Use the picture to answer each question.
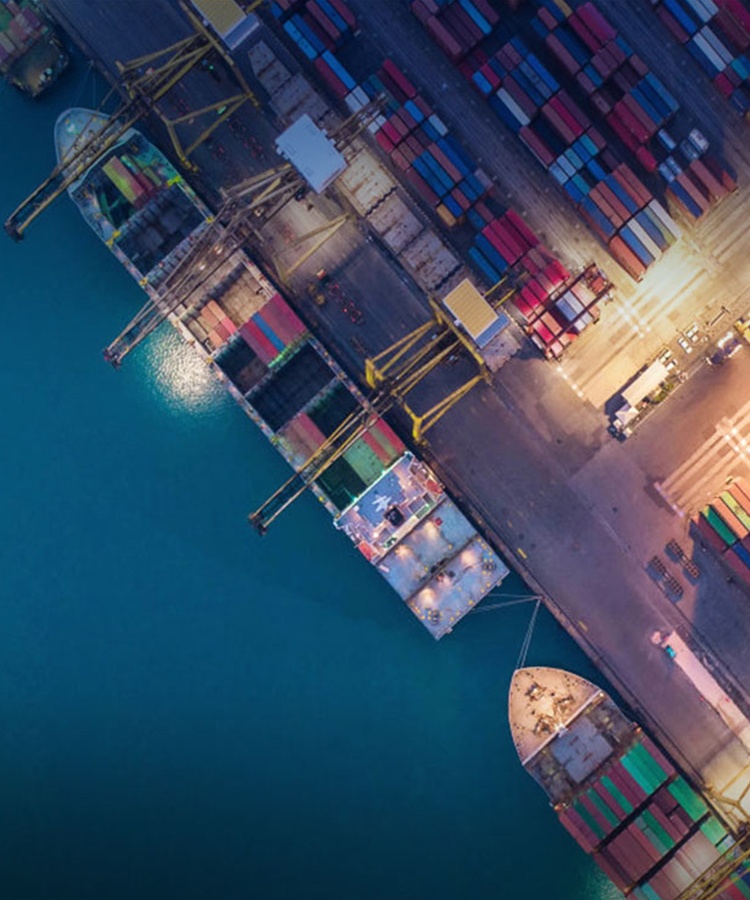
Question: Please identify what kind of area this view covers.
port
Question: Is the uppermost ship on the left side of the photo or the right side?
left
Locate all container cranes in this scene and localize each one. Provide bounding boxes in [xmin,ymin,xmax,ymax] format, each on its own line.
[98,93,391,375]
[244,258,528,535]
[679,761,750,900]
[515,263,615,372]
[0,0,266,234]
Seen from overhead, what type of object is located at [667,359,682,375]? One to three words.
vehicle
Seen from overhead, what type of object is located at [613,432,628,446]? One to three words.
car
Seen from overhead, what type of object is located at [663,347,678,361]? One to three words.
car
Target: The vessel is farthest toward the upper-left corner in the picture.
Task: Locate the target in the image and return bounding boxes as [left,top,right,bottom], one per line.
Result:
[0,22,77,102]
